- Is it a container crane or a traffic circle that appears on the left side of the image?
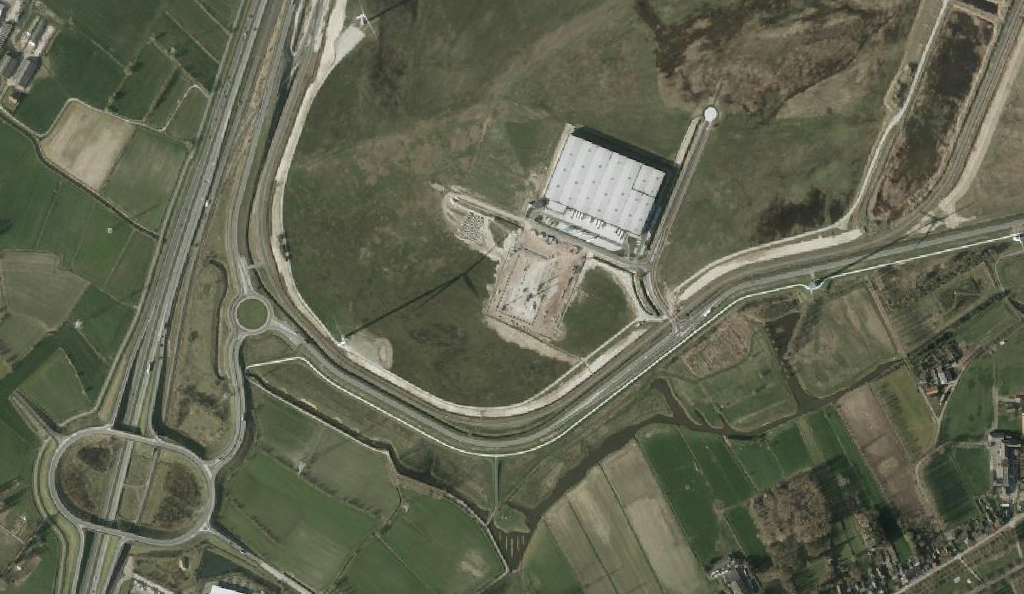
traffic circle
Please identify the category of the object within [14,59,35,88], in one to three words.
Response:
barn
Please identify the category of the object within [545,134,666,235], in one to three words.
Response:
building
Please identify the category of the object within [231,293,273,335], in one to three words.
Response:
roundabout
